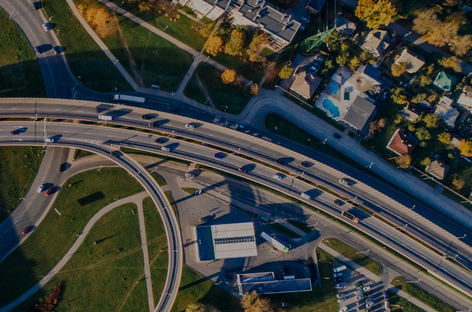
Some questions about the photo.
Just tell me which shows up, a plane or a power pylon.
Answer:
power pylon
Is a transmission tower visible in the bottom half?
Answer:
No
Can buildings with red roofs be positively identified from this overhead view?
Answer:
Yes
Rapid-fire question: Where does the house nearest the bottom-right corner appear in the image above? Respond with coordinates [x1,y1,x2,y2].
[424,158,450,180]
